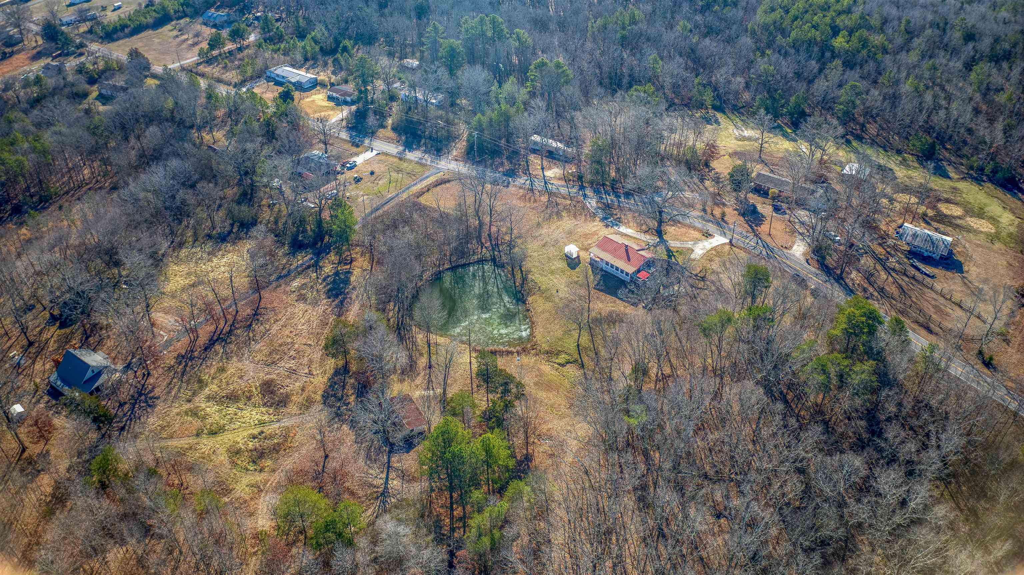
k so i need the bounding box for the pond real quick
[409,260,533,347]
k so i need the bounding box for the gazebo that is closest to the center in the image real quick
[564,243,582,260]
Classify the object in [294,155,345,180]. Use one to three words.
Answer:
house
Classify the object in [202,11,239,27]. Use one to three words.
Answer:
house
